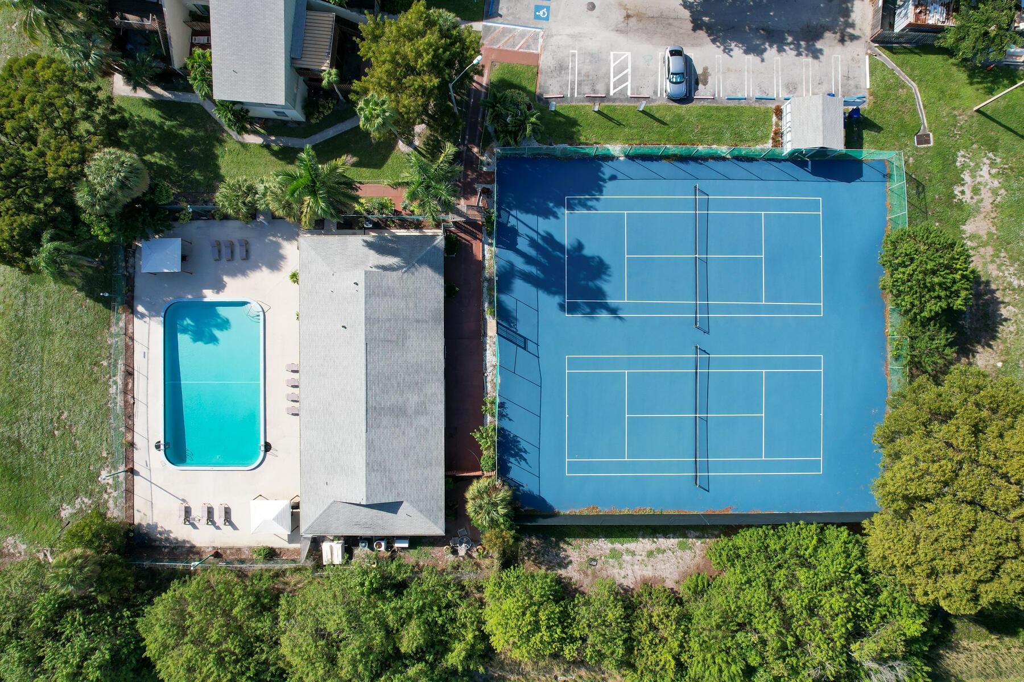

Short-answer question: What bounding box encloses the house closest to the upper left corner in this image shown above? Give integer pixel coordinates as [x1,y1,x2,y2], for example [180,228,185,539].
[213,0,342,120]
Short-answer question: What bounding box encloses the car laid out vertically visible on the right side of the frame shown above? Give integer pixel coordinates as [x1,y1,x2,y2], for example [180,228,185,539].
[664,44,689,100]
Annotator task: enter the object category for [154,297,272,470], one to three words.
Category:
swimming pool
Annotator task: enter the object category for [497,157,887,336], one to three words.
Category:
tennis court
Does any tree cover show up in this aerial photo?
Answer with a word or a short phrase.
Yes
